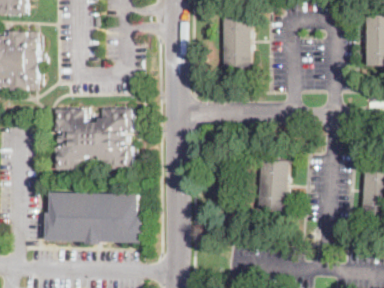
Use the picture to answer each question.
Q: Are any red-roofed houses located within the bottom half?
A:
No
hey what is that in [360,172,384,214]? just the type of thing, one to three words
house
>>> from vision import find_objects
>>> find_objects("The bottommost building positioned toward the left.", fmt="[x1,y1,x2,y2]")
[44,193,142,246]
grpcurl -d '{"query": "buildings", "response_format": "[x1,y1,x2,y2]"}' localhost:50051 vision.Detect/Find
[223,18,257,68]
[53,106,137,172]
[258,160,293,210]
[0,0,31,23]
[360,172,384,214]
[44,193,142,246]
[367,15,384,68]
[0,30,49,99]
